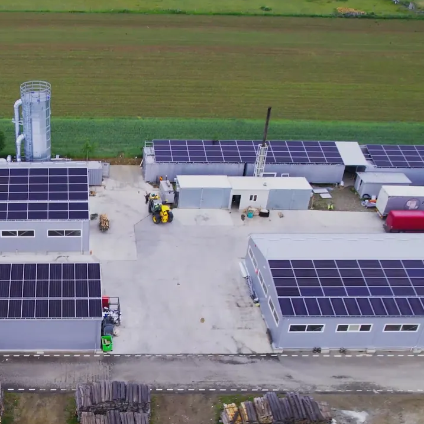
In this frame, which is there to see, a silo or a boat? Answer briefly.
silo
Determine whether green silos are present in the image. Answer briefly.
No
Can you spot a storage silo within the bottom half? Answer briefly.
No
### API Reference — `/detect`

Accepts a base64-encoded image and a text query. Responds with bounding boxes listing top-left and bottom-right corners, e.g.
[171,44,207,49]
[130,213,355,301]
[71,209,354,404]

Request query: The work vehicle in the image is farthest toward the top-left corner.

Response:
[144,189,175,224]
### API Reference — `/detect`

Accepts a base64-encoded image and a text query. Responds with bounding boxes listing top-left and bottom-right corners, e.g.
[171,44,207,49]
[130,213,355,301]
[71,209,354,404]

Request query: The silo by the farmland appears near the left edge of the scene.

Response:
[11,79,75,164]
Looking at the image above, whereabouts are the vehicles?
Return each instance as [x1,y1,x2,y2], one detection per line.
[382,208,424,235]
[102,311,115,339]
[373,185,424,221]
[144,189,175,224]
